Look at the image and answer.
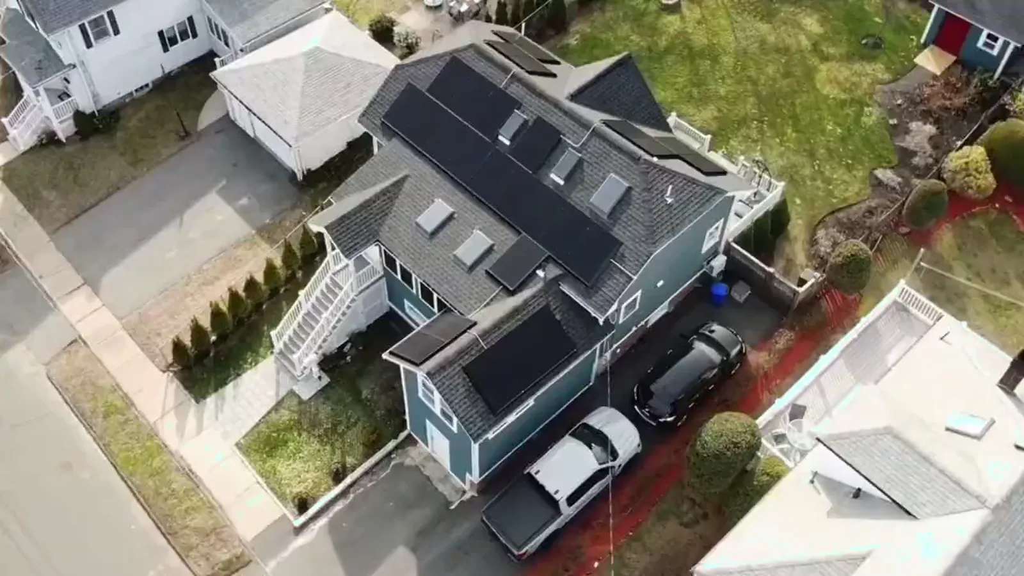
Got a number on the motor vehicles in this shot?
2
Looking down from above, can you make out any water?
No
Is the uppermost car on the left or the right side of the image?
right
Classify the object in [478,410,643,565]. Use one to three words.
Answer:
truck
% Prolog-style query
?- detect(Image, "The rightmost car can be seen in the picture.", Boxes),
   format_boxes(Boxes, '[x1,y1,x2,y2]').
[627,325,749,437]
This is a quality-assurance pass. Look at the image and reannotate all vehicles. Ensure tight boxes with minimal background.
[478,410,643,565]
[627,325,749,437]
